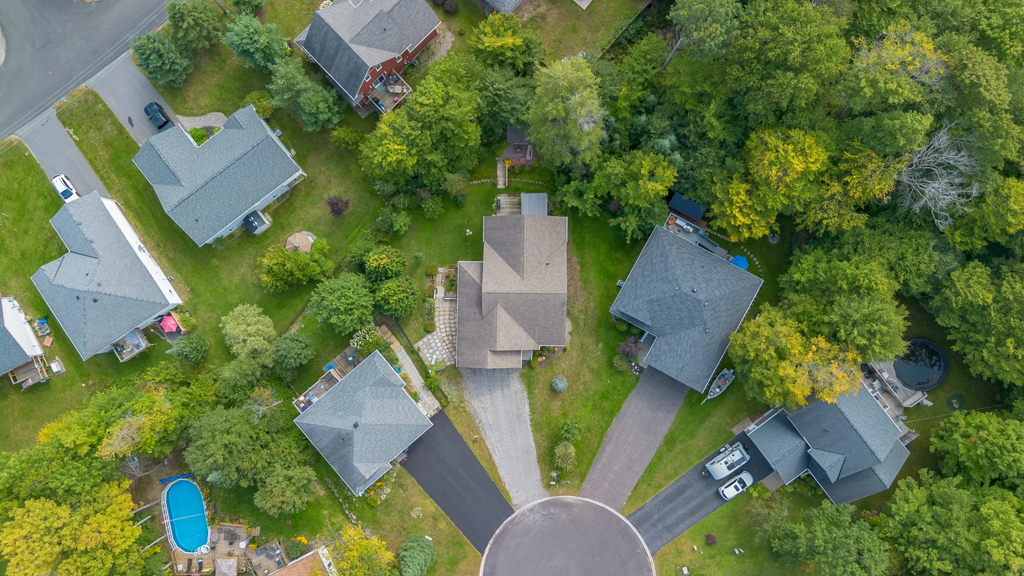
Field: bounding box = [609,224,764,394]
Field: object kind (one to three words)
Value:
house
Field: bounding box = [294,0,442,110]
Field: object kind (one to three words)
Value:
house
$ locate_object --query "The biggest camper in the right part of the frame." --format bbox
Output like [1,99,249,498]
[699,440,750,479]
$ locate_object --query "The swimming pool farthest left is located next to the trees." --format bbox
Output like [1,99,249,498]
[160,477,212,553]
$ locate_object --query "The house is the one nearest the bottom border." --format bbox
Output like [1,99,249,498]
[261,542,343,576]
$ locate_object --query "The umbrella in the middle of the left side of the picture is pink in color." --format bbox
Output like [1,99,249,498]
[159,315,178,333]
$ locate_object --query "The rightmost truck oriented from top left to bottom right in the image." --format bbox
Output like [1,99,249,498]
[139,94,177,133]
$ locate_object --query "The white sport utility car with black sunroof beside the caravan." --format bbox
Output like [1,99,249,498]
[716,470,755,502]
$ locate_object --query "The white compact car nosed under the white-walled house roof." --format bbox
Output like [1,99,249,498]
[53,175,81,203]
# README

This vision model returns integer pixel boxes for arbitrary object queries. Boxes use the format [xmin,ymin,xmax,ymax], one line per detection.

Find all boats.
[701,368,738,407]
